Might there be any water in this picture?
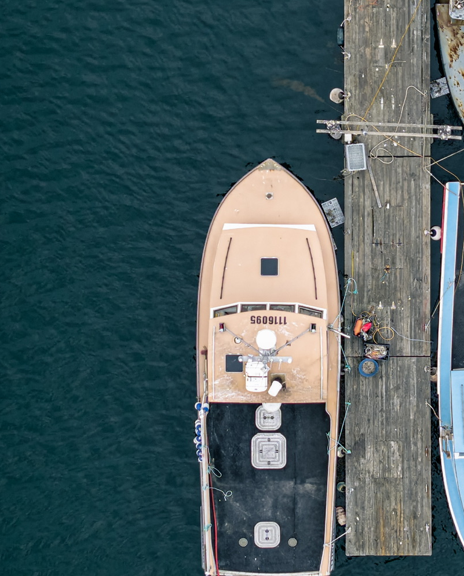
Yes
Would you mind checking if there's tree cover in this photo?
No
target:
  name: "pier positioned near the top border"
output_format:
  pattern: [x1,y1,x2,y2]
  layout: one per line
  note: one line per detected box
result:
[344,0,431,156]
